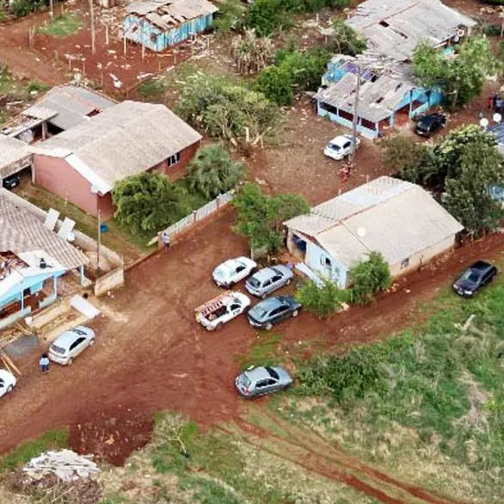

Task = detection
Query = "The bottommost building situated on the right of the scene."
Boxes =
[288,182,459,291]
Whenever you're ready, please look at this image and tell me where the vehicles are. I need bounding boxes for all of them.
[208,253,263,288]
[42,324,102,366]
[192,288,254,328]
[242,294,308,330]
[321,129,365,159]
[0,367,20,395]
[243,263,298,298]
[451,257,504,297]
[230,362,297,399]
[4,169,30,192]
